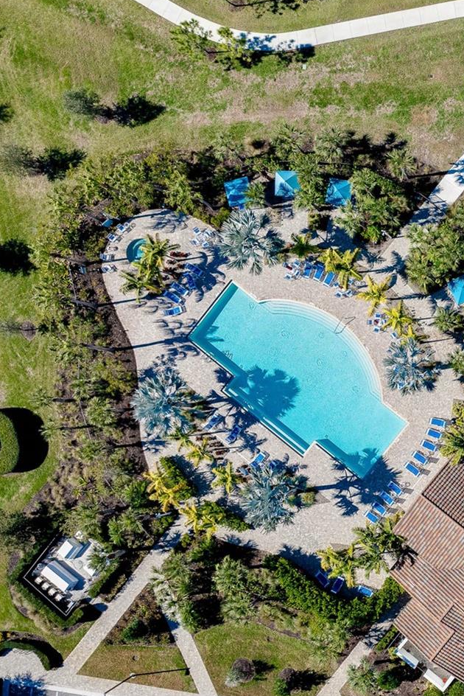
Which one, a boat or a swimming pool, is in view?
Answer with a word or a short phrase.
swimming pool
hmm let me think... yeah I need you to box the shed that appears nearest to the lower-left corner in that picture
[43,558,83,590]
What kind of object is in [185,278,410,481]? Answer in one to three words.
swimming pool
